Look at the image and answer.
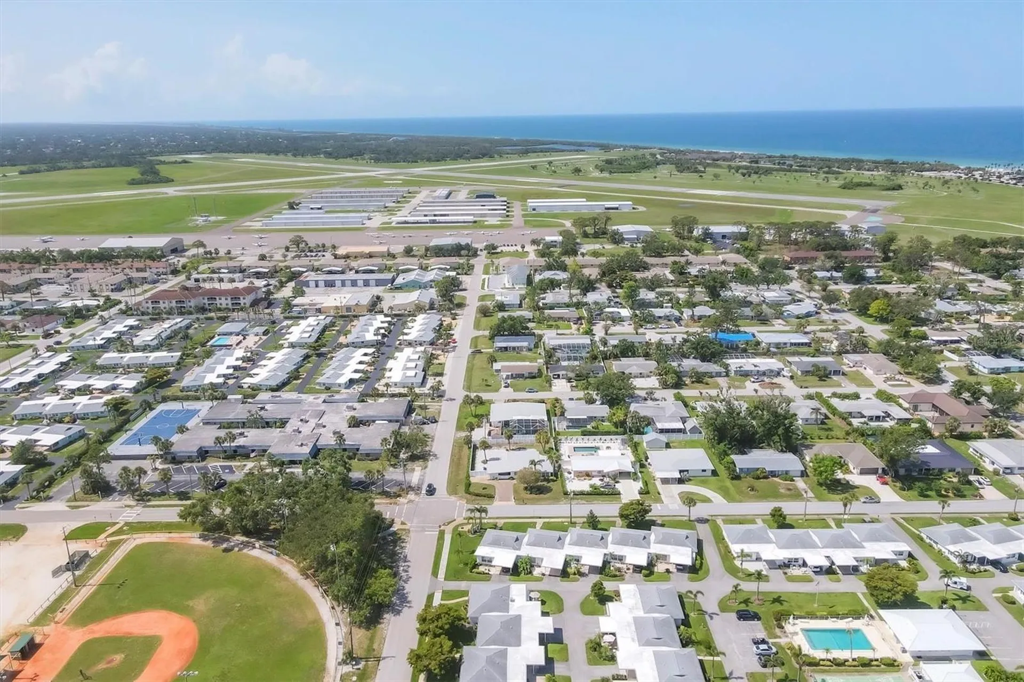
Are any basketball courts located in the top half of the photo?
No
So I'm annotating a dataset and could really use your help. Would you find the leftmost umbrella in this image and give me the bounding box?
[526,588,543,600]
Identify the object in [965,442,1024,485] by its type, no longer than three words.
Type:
house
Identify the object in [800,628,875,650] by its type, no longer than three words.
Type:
swimming pool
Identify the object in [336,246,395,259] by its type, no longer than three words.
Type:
building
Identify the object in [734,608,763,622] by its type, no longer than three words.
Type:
car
